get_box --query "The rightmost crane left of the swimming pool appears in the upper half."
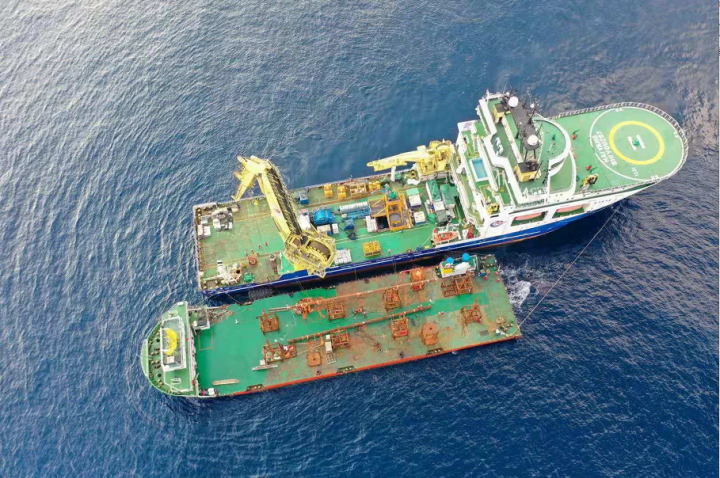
[366,148,451,192]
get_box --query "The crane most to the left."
[227,148,334,281]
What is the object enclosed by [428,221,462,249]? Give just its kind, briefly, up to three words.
boat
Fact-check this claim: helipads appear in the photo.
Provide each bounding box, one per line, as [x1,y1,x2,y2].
[553,101,690,194]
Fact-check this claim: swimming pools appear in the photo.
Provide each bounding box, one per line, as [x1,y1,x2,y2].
[468,154,489,183]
